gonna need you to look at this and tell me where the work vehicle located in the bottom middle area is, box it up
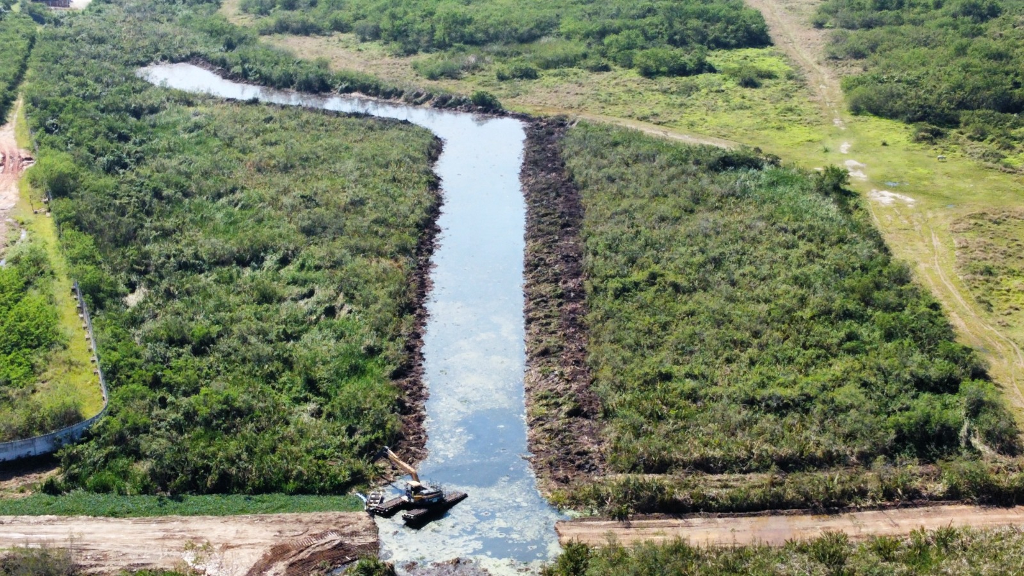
[366,448,466,524]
